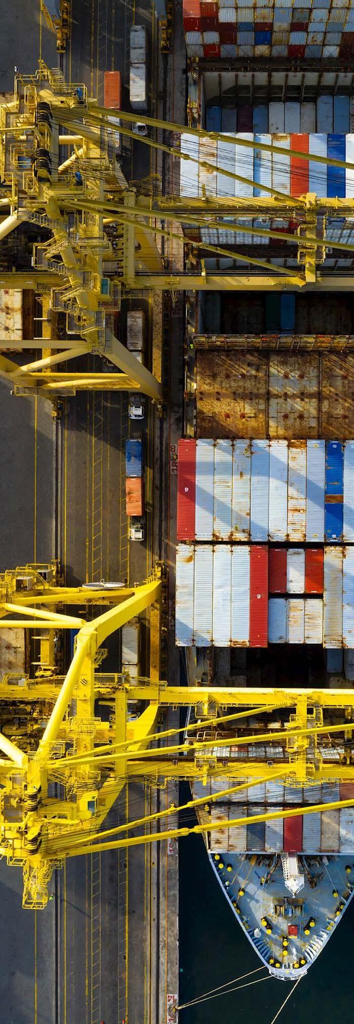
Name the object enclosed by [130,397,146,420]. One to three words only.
vehicle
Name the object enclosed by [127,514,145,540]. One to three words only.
vehicle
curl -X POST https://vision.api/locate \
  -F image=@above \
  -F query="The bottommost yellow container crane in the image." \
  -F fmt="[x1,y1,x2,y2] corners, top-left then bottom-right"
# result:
[0,559,354,916]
